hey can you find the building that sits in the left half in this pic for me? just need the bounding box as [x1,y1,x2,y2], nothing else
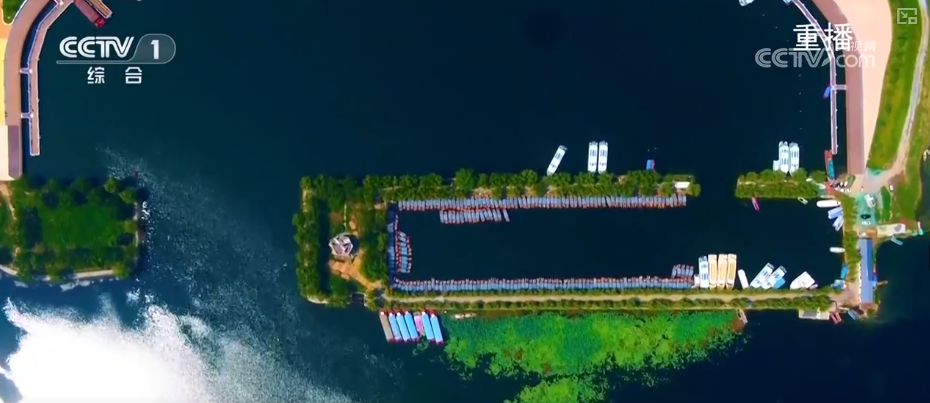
[330,233,354,257]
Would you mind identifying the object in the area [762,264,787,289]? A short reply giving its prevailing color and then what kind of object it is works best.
white ship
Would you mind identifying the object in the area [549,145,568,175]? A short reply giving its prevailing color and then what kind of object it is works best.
white ship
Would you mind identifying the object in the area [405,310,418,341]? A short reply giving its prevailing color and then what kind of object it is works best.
blue boat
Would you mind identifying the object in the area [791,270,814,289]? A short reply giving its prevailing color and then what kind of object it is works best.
white boat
